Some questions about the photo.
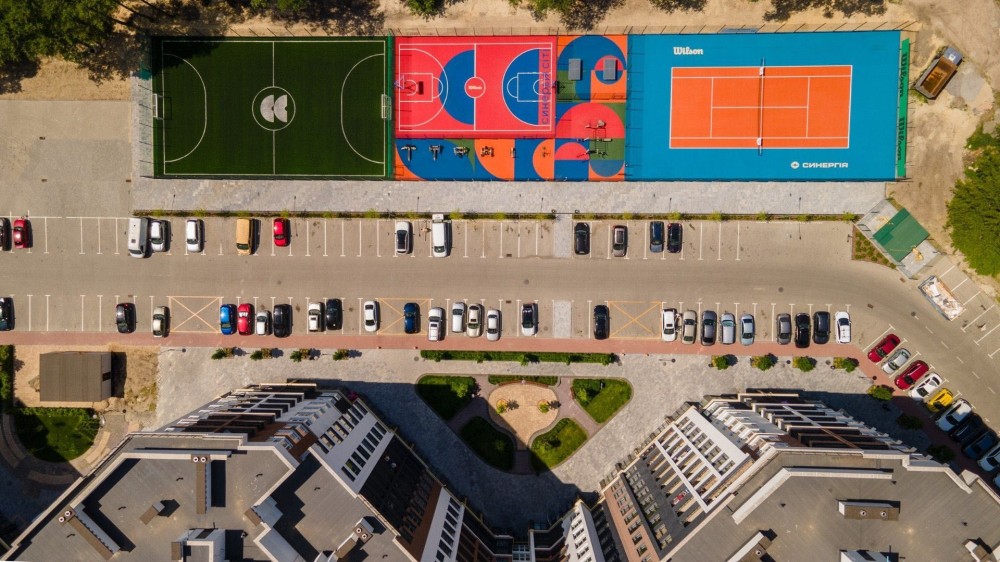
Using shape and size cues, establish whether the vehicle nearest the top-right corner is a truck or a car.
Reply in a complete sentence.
Looking closely, the vehicle nearest the top-right corner is a truck.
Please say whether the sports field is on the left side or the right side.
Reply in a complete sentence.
You can find the sports field on the left side of the picture.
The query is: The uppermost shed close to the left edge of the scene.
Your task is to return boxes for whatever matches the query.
[40,352,111,401]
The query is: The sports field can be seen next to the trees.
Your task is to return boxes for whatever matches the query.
[152,36,392,180]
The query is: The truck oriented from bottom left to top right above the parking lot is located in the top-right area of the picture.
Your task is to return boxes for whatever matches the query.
[913,48,963,98]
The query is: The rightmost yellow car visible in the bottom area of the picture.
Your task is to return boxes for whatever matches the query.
[925,387,954,411]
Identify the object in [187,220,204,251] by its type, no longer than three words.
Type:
car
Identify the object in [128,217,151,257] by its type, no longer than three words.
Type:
vehicle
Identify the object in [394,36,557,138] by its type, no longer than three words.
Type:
basketball court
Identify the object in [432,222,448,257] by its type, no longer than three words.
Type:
vehicle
